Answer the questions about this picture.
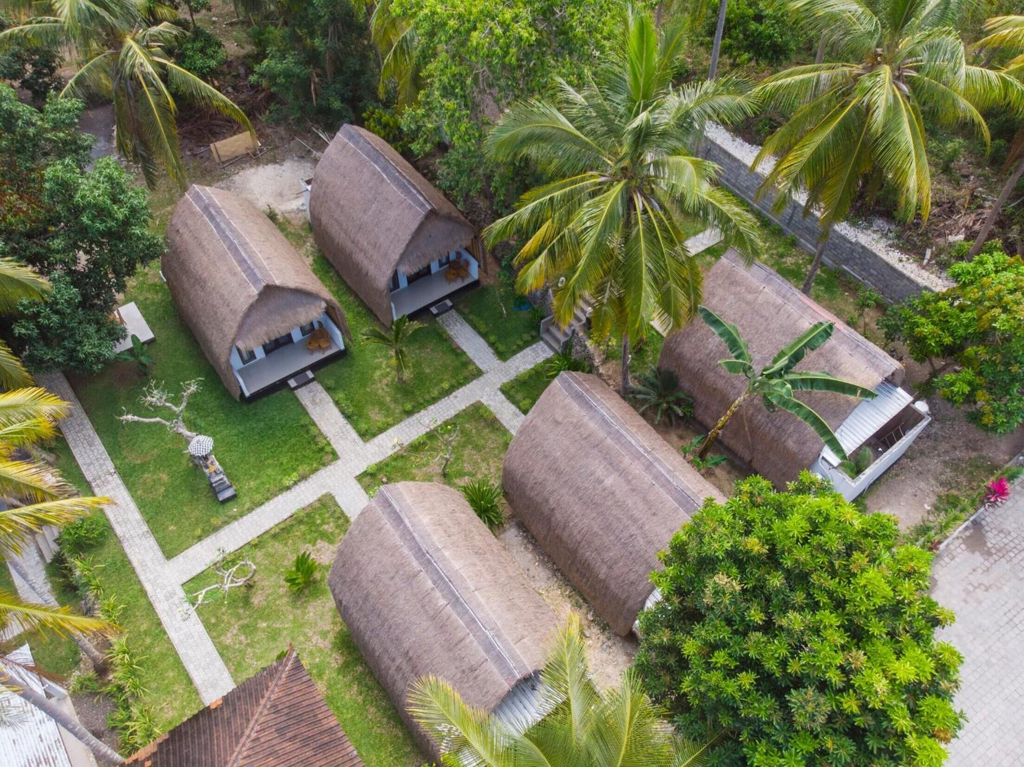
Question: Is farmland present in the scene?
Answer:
No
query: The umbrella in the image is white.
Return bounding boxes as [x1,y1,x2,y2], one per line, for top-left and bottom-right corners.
[179,433,208,458]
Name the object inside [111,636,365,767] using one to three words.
building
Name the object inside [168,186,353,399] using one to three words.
shed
